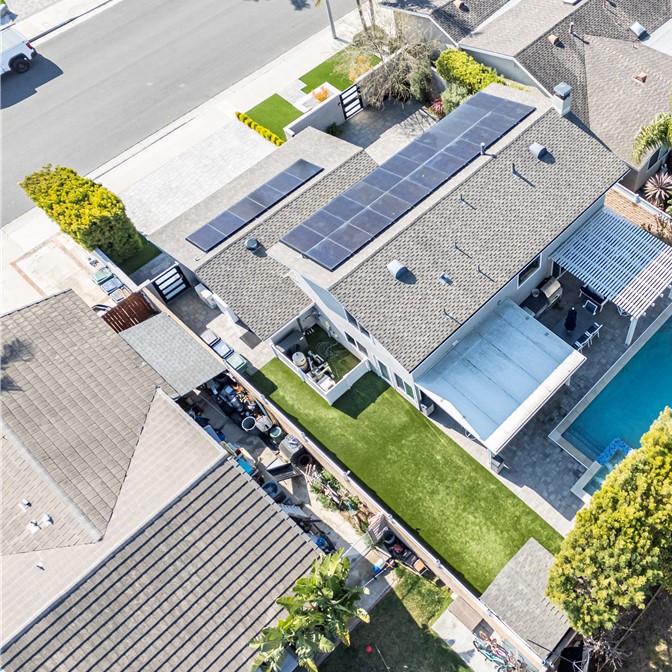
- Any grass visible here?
Yes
